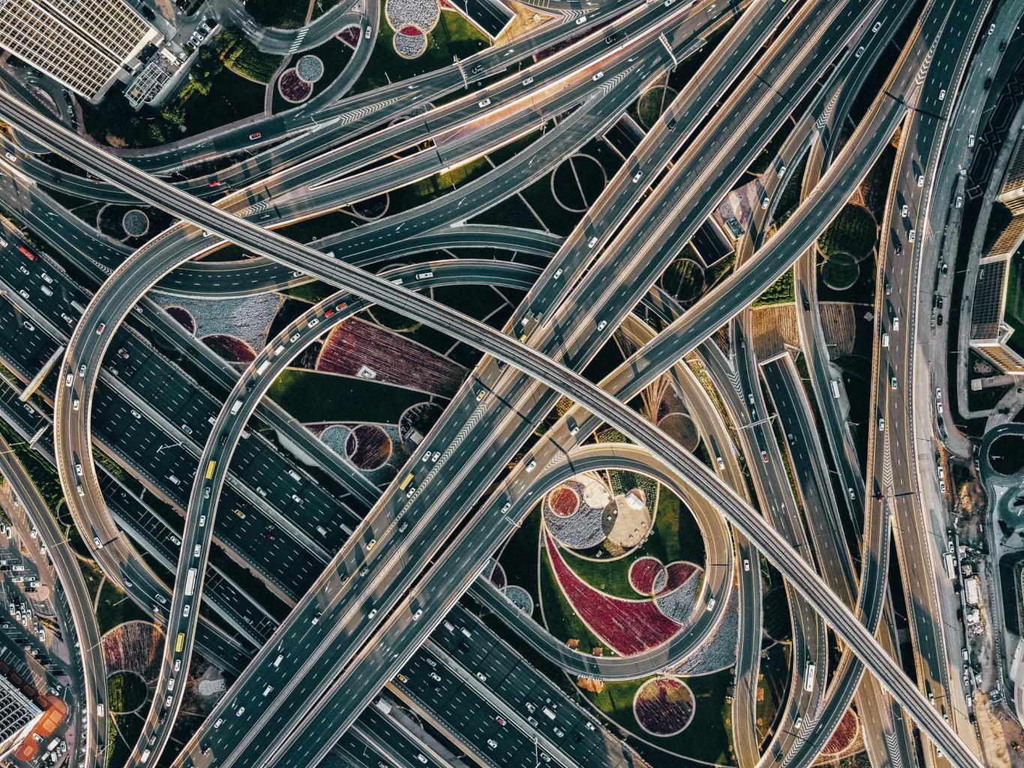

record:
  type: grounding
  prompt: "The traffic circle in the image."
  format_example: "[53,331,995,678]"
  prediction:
[977,423,1024,485]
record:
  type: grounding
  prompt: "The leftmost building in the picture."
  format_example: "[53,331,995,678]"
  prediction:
[0,660,58,756]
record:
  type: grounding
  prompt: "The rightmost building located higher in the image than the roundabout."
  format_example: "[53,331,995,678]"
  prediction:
[958,127,1024,376]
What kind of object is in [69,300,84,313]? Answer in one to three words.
vehicle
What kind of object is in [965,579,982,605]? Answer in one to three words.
building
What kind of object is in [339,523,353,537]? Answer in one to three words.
vehicle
